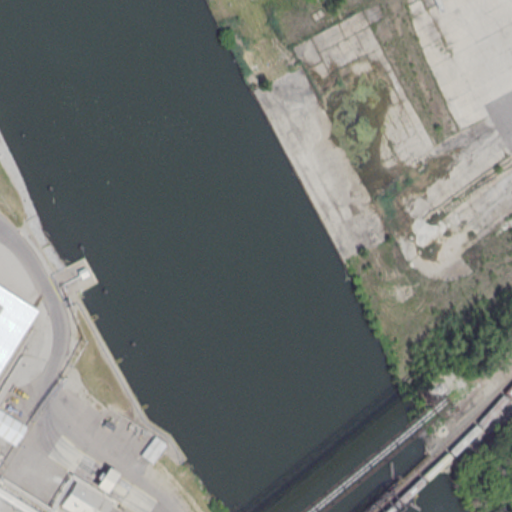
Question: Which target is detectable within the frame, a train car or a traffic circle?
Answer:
train car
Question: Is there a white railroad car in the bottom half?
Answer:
Yes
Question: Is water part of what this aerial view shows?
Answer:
Yes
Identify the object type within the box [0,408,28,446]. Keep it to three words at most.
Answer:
shed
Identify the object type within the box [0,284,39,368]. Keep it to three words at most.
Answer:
building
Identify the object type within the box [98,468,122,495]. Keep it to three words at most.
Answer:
building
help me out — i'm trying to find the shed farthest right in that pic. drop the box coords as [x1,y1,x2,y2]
[140,436,168,466]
